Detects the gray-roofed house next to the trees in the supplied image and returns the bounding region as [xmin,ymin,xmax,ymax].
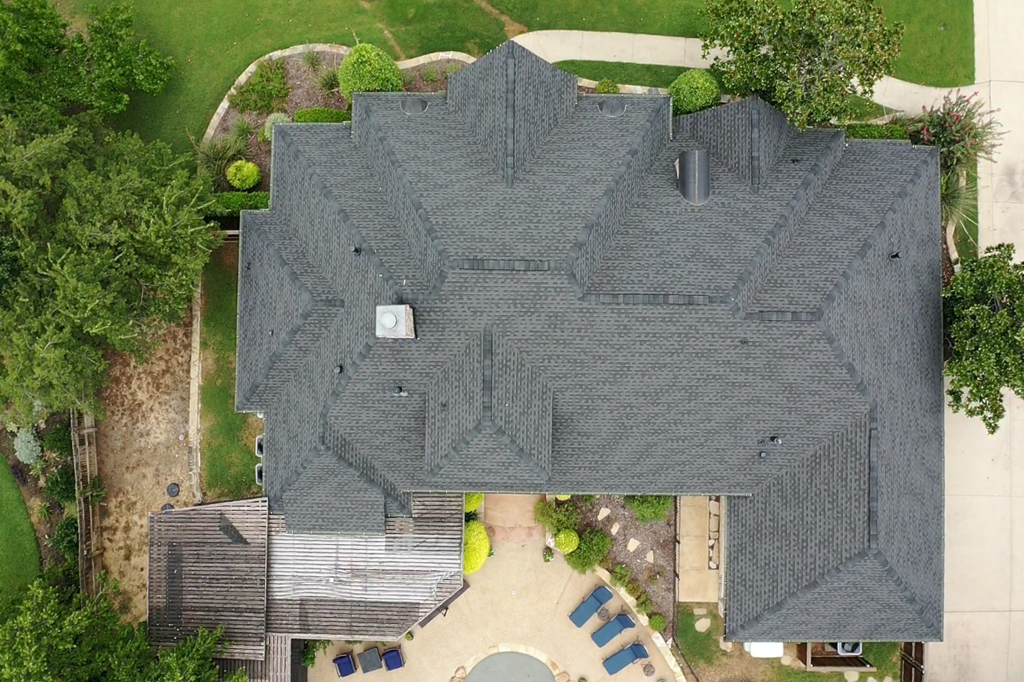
[233,34,947,645]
